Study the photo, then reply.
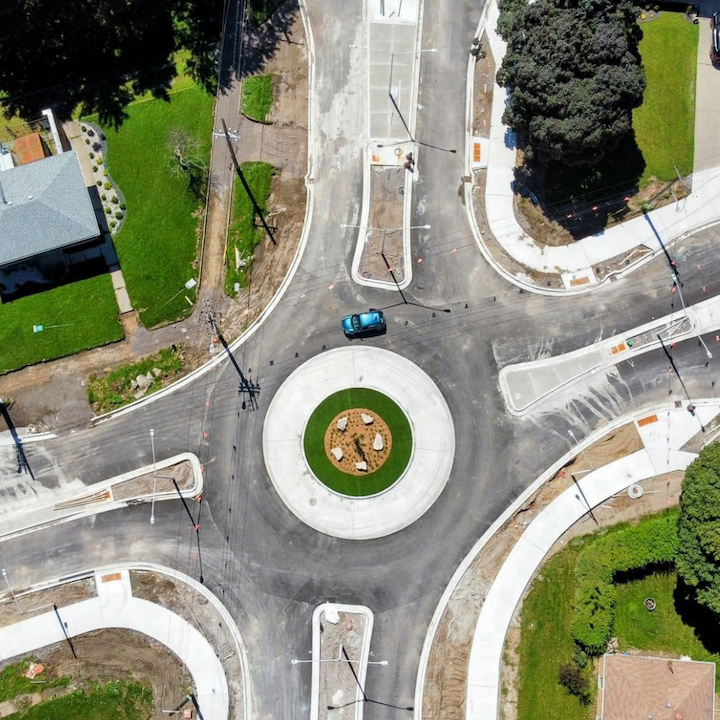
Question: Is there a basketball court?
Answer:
No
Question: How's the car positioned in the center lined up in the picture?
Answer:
from side to side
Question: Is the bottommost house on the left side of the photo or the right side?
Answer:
right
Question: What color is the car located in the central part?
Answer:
blue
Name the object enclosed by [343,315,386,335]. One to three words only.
car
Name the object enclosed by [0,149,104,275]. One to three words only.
house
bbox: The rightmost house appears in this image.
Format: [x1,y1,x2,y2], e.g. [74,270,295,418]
[598,652,716,720]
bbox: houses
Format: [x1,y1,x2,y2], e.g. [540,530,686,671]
[0,149,104,275]
[598,652,716,720]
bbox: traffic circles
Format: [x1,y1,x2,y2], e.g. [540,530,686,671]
[221,307,499,585]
